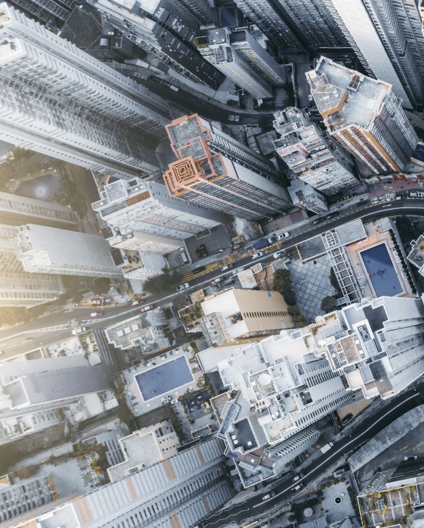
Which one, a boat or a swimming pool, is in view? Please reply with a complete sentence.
I can see a swimming pool in this picture.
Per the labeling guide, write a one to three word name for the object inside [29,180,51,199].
fountain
